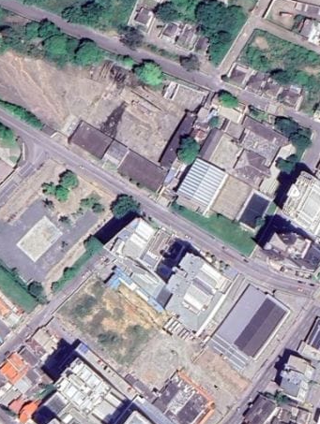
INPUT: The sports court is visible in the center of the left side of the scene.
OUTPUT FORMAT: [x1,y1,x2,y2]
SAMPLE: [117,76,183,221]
[16,216,63,263]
